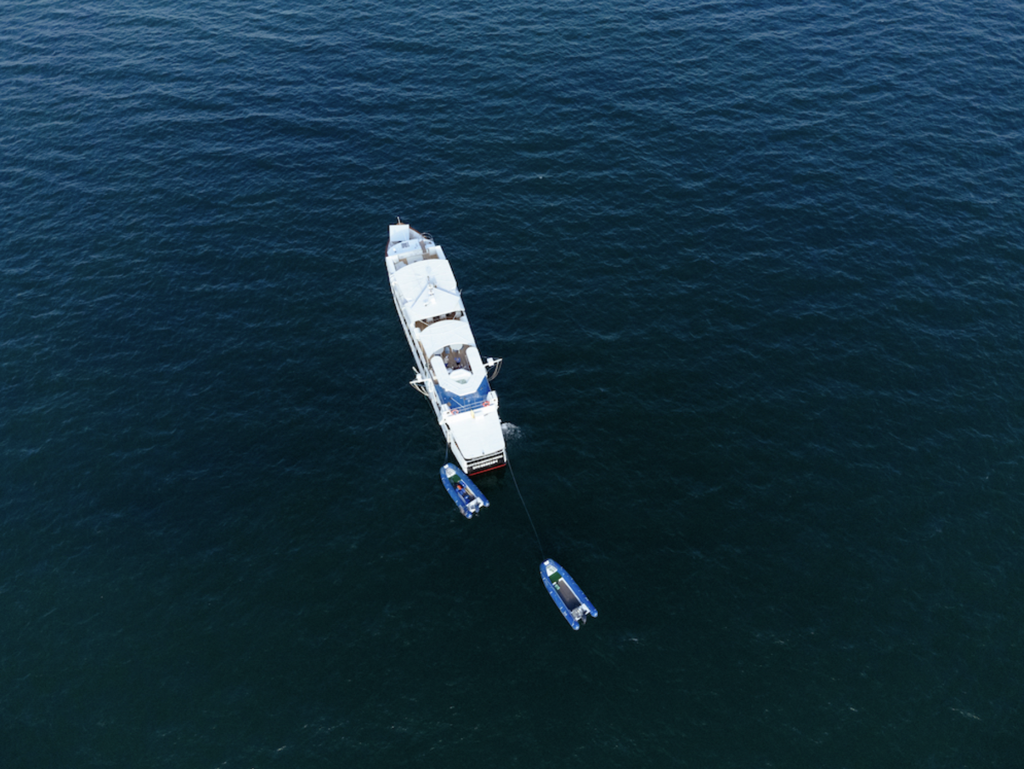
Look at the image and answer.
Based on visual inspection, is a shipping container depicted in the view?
No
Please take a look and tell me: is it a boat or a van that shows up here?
boat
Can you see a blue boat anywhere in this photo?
Yes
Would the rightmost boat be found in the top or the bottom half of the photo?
bottom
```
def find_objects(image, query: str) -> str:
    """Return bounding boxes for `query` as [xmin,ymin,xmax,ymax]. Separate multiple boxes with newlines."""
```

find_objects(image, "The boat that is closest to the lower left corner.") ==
[439,462,489,519]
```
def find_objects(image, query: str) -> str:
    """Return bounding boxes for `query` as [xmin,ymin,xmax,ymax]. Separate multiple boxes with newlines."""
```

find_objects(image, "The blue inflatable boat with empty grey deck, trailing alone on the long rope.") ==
[538,558,596,629]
